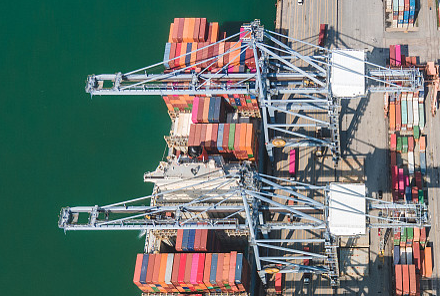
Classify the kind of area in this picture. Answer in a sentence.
What you see here is a port.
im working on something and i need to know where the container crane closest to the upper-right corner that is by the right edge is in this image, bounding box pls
[382,62,439,110]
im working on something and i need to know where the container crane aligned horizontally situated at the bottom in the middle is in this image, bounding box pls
[55,165,432,294]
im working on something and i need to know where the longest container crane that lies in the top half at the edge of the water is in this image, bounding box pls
[84,18,424,171]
